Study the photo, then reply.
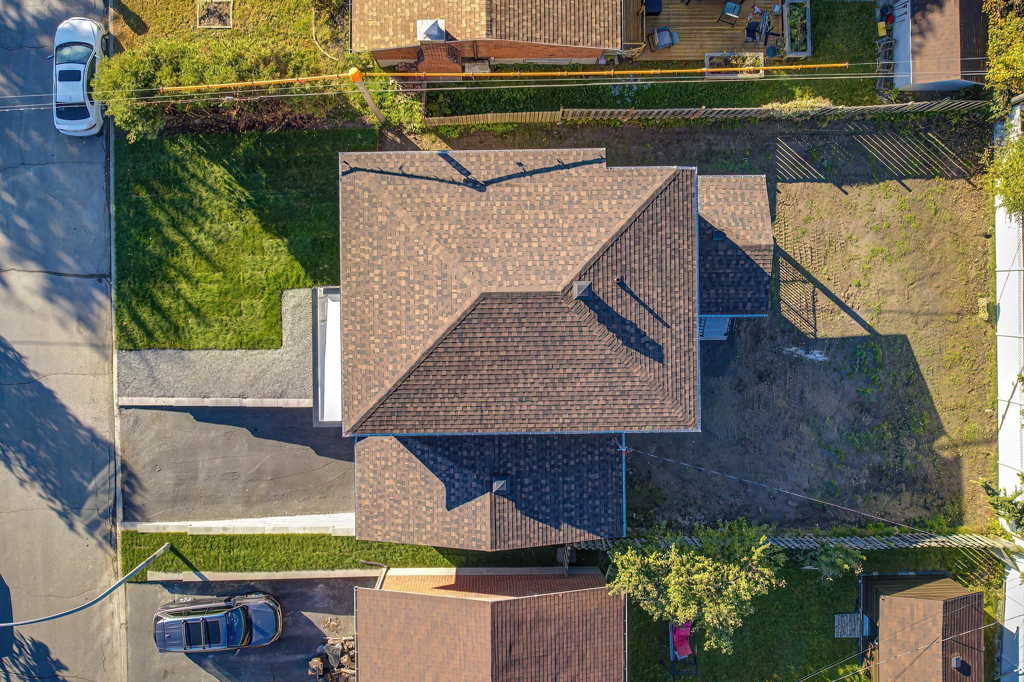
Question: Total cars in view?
2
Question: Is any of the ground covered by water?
No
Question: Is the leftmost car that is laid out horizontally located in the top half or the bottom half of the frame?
bottom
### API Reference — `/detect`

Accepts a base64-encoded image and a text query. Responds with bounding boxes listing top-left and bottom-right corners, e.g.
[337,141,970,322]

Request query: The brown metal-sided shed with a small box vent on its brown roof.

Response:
[852,572,983,682]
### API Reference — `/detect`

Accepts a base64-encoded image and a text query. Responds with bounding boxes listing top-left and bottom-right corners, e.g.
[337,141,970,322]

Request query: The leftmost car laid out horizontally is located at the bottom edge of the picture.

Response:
[155,593,287,657]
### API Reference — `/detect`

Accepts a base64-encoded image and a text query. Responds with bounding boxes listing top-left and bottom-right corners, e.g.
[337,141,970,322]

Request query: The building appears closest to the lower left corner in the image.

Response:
[353,559,628,682]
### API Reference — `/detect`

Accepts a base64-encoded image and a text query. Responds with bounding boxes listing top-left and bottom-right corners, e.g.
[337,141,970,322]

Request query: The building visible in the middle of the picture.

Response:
[312,146,774,548]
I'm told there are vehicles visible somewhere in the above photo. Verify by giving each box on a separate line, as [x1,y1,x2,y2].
[155,593,287,657]
[44,18,106,138]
